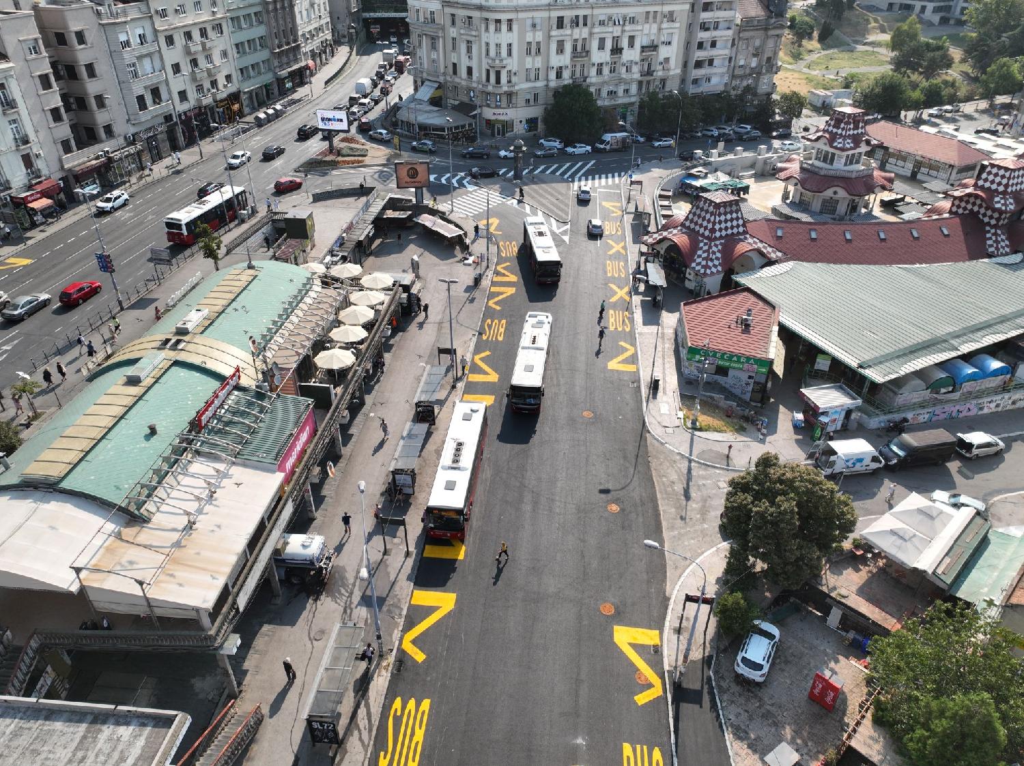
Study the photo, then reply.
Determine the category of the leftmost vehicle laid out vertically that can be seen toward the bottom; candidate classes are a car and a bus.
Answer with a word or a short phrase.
bus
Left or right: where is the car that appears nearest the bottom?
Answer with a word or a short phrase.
right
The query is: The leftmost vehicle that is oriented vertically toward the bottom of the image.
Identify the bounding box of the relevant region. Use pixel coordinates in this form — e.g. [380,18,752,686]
[424,400,487,536]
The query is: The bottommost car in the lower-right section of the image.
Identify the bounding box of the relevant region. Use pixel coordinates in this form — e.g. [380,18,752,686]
[741,621,781,695]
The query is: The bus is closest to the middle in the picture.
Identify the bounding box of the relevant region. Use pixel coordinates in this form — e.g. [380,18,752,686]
[509,307,551,409]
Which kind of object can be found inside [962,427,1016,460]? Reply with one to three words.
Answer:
car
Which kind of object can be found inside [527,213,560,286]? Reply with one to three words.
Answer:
bus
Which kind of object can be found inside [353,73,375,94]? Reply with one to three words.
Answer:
truck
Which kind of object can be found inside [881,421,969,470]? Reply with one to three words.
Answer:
van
